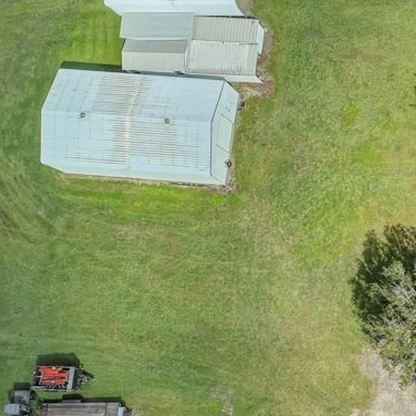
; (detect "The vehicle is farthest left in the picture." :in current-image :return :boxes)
[4,385,41,416]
